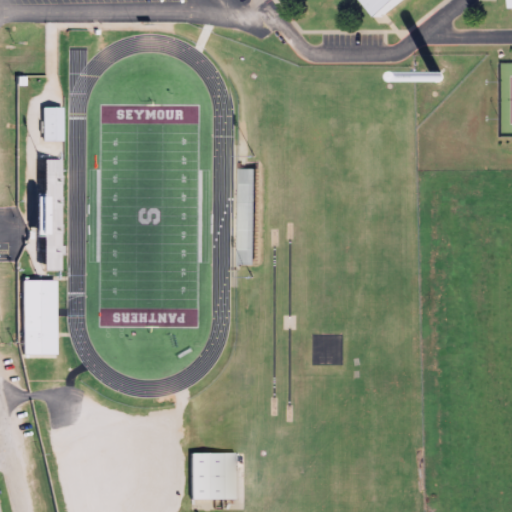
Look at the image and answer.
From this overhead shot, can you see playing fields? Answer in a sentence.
Yes, a playing field appears in the view.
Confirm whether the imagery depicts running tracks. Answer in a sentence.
Yes, the frame does contain a running track.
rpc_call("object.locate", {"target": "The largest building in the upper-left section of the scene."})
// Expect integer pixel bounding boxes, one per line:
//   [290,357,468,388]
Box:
[42,107,68,142]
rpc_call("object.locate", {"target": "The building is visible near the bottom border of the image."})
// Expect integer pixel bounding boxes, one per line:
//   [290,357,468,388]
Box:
[192,454,239,500]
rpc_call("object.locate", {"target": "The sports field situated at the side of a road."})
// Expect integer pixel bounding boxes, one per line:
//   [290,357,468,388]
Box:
[86,53,212,378]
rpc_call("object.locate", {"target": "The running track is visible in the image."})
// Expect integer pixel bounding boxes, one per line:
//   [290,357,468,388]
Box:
[68,35,234,397]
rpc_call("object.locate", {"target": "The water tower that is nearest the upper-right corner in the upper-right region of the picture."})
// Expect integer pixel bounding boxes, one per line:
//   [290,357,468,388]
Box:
[382,70,445,84]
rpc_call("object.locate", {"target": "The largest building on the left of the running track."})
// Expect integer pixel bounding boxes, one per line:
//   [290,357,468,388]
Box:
[23,279,62,356]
